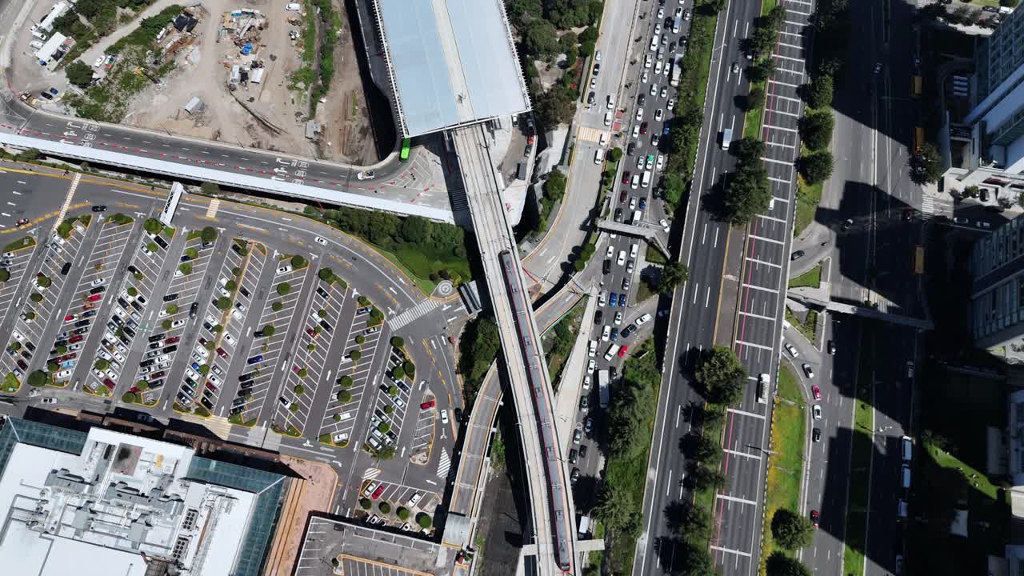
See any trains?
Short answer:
Yes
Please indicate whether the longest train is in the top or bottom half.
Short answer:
bottom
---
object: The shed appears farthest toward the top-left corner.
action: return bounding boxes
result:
[35,32,70,66]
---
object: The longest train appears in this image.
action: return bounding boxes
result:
[502,254,569,563]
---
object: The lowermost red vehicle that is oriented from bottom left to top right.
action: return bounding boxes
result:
[371,485,384,500]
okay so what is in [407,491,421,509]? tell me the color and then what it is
white vehicle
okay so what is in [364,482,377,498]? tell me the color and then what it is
white vehicle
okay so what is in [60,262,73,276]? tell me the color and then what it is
black vehicle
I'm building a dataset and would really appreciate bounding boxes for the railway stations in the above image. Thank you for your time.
[369,0,535,167]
